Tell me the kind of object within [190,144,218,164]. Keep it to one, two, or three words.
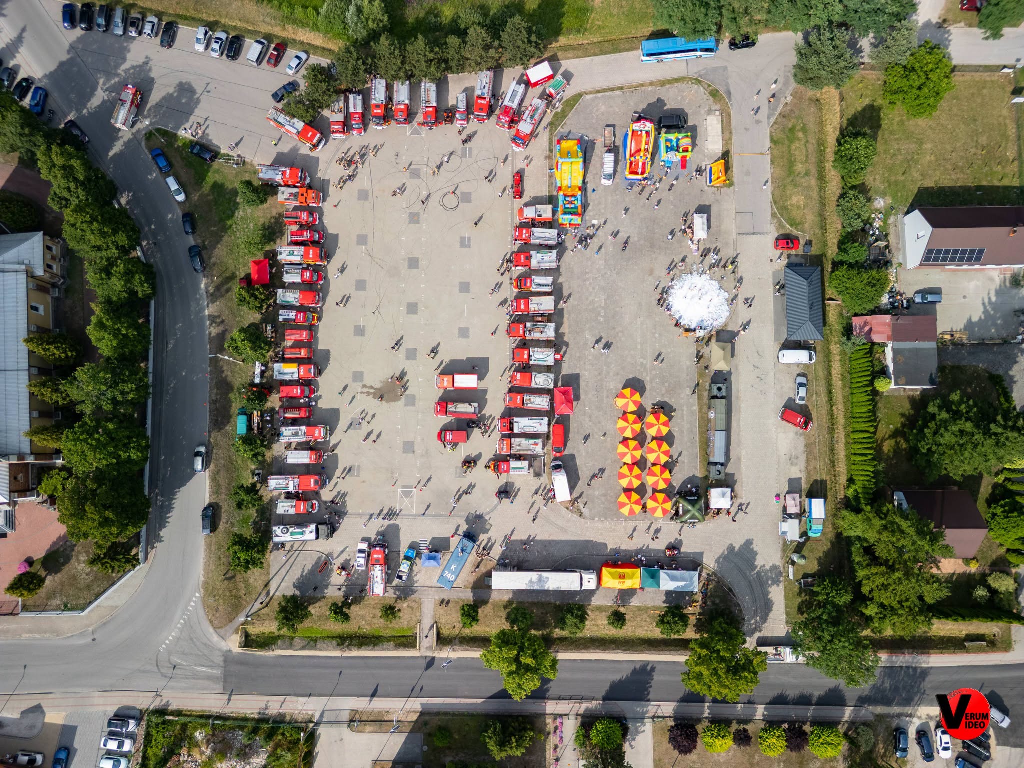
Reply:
car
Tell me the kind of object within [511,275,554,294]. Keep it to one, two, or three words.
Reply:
vehicle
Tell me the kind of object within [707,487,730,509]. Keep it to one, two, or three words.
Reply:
tent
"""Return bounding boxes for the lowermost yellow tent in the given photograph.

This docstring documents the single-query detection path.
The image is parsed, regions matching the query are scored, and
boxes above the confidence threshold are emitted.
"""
[596,557,641,591]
